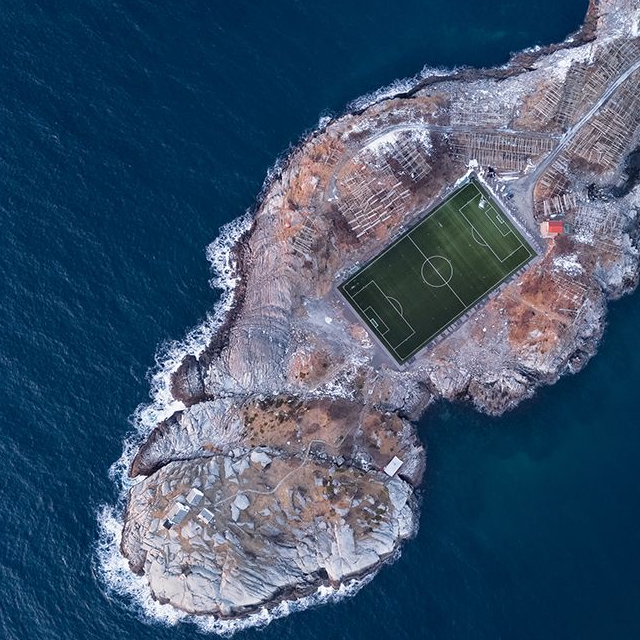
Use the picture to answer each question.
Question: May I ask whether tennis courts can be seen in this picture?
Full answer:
No, no tennis court can be seen from above.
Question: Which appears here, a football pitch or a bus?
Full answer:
The image shows a football pitch.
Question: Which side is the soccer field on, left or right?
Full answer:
It is on the right.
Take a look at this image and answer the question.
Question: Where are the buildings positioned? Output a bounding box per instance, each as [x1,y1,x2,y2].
[548,222,564,234]
[186,487,206,507]
[383,455,403,475]
[166,501,190,526]
[198,507,215,524]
